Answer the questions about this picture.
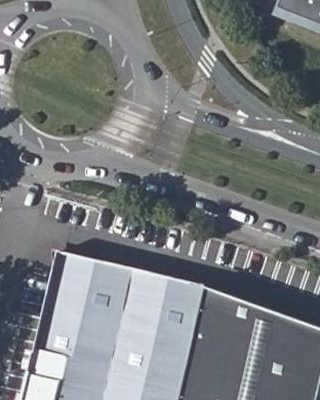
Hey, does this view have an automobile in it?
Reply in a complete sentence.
Yes, there's an automobile here.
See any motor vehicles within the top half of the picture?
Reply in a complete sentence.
Yes, within the top half of the picture there is a motor vehicle.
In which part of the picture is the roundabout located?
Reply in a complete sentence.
The roundabout sits in the top left section of the image.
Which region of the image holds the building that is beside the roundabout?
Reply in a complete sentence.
The building that is beside the roundabout is located in the bottom region of the scene.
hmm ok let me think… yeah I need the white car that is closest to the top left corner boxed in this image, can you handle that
[4,15,24,36]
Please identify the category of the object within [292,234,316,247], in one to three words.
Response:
vehicle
